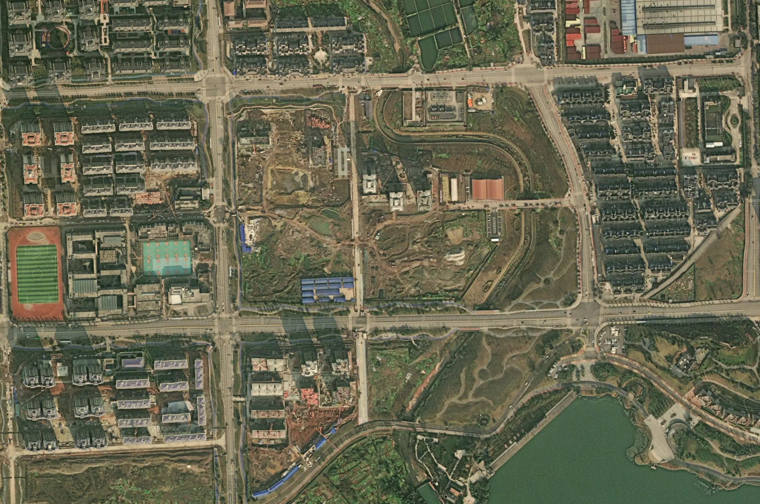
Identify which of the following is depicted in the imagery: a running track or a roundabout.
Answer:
running track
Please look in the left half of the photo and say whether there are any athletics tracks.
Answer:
Yes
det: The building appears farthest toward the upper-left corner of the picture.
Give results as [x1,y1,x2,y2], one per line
[9,1,32,24]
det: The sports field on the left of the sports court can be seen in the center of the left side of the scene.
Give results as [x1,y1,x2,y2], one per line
[16,246,58,304]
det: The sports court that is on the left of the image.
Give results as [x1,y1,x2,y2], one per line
[143,239,191,276]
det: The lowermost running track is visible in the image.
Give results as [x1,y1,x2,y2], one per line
[8,226,66,321]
